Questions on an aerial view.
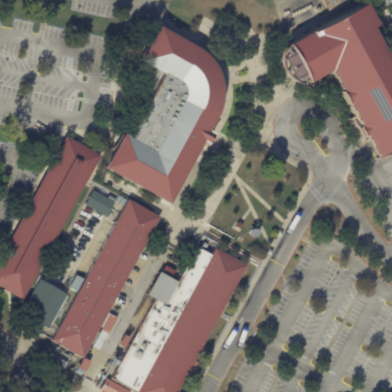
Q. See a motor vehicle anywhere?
Yes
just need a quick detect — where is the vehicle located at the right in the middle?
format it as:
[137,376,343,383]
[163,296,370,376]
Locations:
[285,210,302,234]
